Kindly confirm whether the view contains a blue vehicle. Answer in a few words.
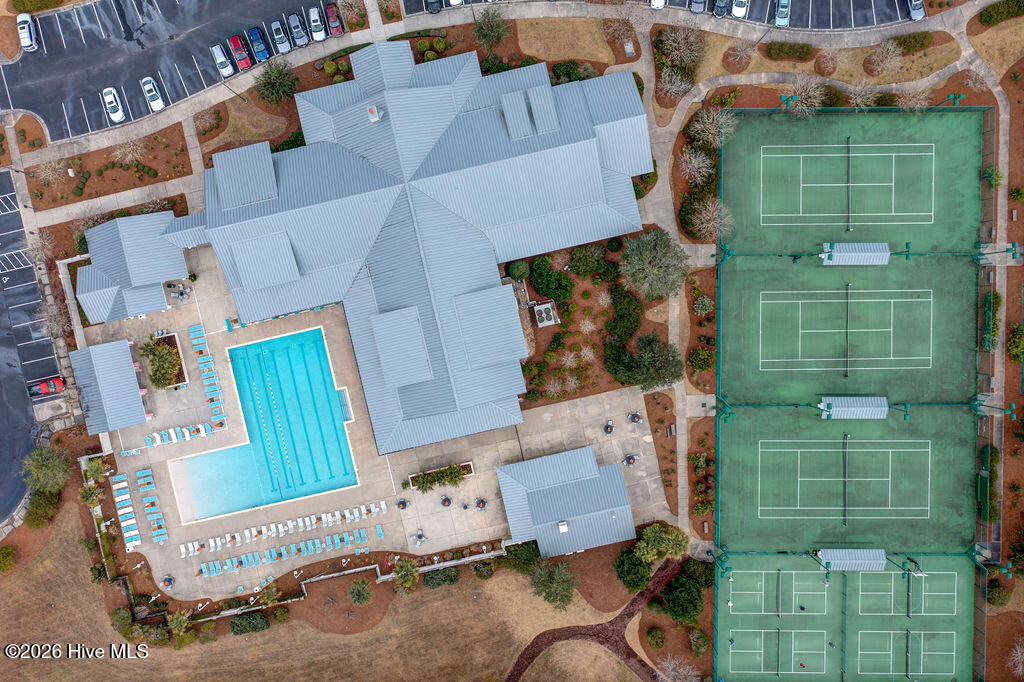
Yes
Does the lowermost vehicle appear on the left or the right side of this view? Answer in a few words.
left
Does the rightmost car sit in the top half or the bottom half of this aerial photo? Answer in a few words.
top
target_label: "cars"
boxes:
[104,88,127,125]
[689,0,706,15]
[427,0,443,15]
[270,19,294,57]
[905,0,925,23]
[210,42,236,81]
[730,0,748,20]
[309,6,328,44]
[288,12,311,50]
[229,34,254,73]
[711,0,728,20]
[327,2,345,39]
[143,77,166,114]
[248,26,271,64]
[649,0,665,11]
[773,0,790,29]
[17,15,41,52]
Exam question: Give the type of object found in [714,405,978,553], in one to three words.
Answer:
tennis court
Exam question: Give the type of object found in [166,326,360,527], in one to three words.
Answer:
swimming pool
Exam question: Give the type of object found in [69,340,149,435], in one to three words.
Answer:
shed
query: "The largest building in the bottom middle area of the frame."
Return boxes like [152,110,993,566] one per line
[496,446,636,558]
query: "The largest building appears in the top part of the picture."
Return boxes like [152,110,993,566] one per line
[204,41,654,456]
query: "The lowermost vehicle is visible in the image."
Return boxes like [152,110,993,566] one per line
[26,378,67,398]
